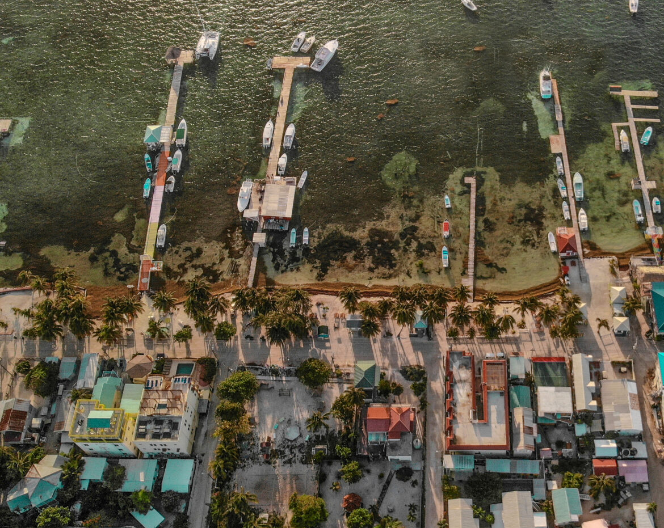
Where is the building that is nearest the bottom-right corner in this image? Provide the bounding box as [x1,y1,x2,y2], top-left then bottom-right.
[632,504,653,528]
